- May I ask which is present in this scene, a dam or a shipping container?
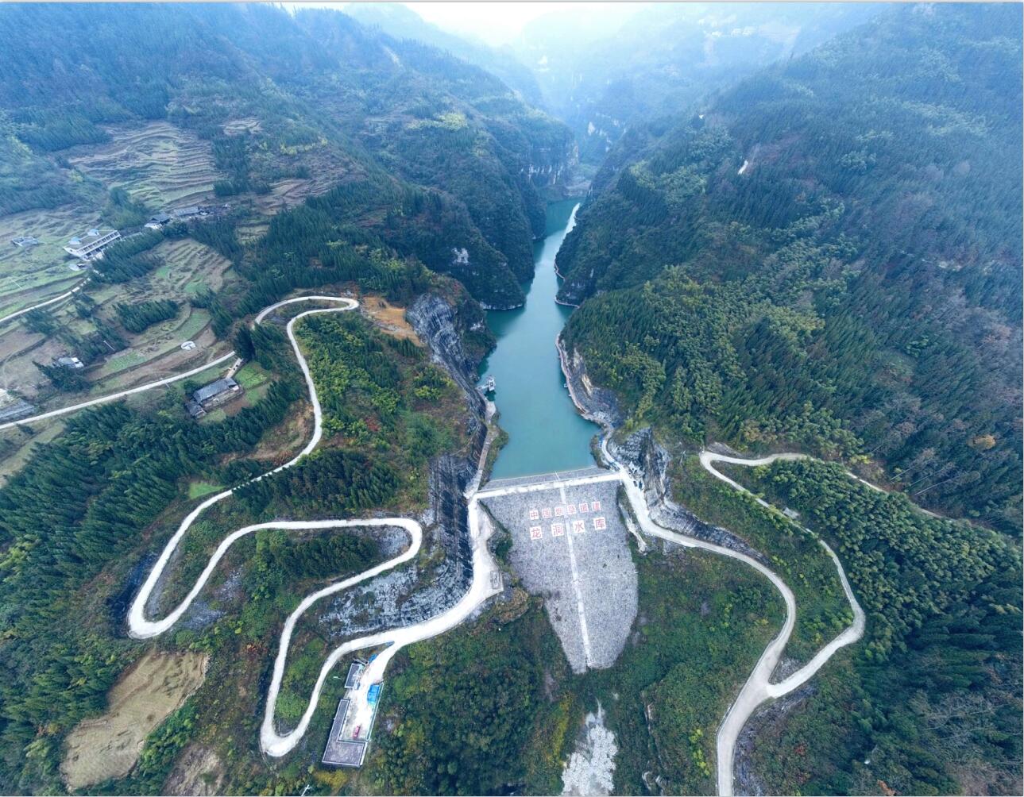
dam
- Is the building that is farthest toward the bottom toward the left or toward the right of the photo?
left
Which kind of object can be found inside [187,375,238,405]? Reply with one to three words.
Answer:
house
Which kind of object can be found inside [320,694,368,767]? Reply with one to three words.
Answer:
building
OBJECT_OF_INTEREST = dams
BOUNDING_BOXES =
[472,468,638,674]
